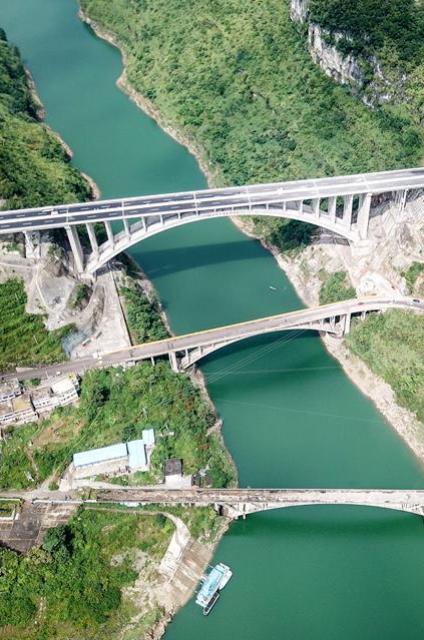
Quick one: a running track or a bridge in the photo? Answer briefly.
bridge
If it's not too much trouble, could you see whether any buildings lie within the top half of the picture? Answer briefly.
No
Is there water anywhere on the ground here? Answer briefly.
Yes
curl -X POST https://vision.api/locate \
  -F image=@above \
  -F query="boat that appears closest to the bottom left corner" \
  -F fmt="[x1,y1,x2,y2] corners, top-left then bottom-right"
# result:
[202,593,217,614]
